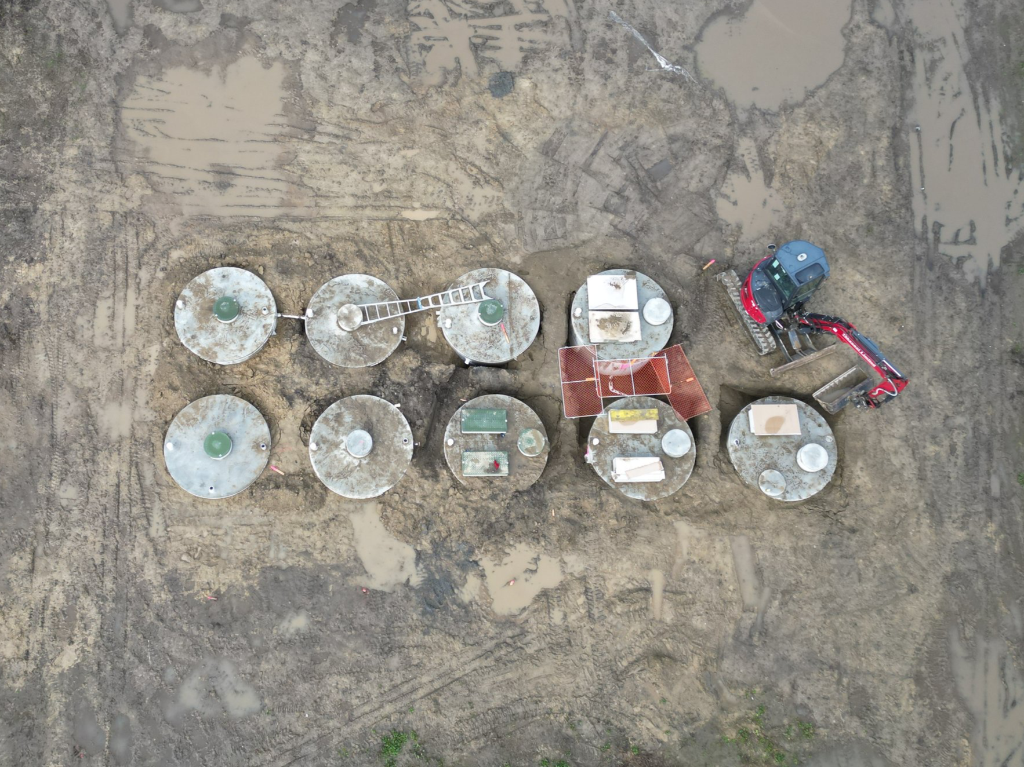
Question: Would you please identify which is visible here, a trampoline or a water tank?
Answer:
water tank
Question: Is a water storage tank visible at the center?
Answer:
Yes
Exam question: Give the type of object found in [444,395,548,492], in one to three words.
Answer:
water tank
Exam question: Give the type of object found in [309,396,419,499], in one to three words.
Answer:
water tank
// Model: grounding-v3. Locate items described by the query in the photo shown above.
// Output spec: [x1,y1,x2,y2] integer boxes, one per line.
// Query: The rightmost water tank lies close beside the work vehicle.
[718,395,837,504]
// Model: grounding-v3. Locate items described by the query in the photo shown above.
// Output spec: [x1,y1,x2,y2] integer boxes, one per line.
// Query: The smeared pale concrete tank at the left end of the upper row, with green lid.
[174,268,282,365]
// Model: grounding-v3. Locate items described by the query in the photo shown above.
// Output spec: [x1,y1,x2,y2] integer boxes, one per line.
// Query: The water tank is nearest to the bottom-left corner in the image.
[164,394,273,500]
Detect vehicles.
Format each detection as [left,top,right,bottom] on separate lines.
[714,240,913,417]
